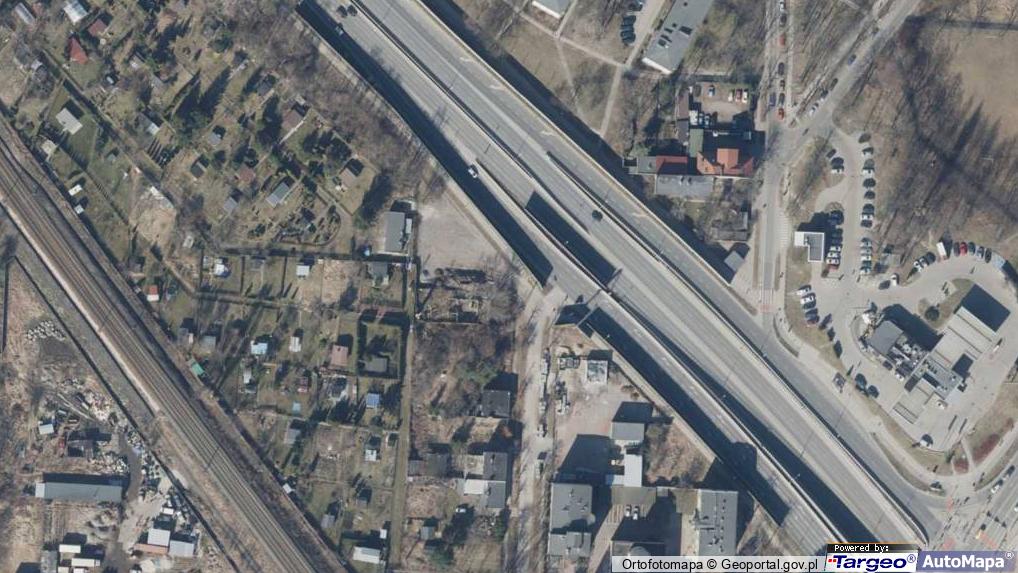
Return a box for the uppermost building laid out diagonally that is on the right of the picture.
[642,0,714,74]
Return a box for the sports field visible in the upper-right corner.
[947,32,1018,146]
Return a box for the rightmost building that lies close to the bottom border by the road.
[694,491,738,573]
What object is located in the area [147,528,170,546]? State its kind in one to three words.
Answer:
shed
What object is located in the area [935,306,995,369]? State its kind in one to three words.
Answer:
building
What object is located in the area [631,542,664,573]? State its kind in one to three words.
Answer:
building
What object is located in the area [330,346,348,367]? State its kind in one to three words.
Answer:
house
